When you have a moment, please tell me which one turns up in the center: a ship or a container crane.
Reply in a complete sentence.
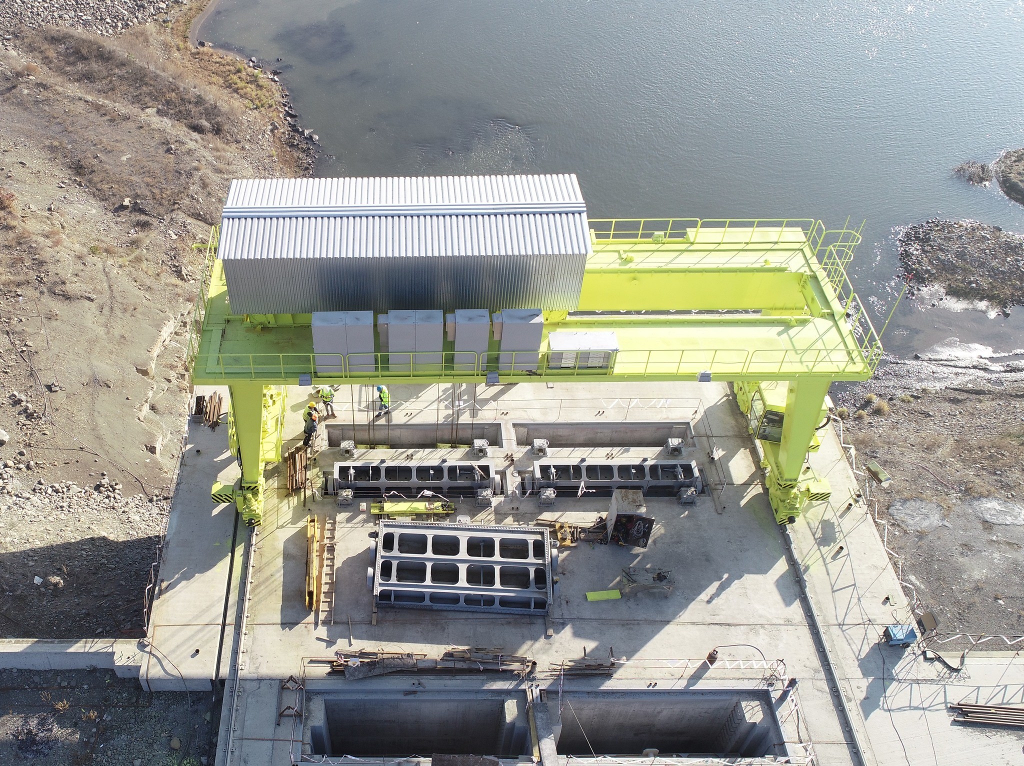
You can see a container crane in the center.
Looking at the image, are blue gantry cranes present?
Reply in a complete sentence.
No, no blue gantry crane is visible in the scene.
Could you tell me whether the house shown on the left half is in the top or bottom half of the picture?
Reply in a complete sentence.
Seen from above, the house shown on the left half lies in the top half of the view.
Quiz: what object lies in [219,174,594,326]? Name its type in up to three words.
house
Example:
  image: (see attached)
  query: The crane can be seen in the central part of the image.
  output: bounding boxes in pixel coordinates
[190,225,881,541]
